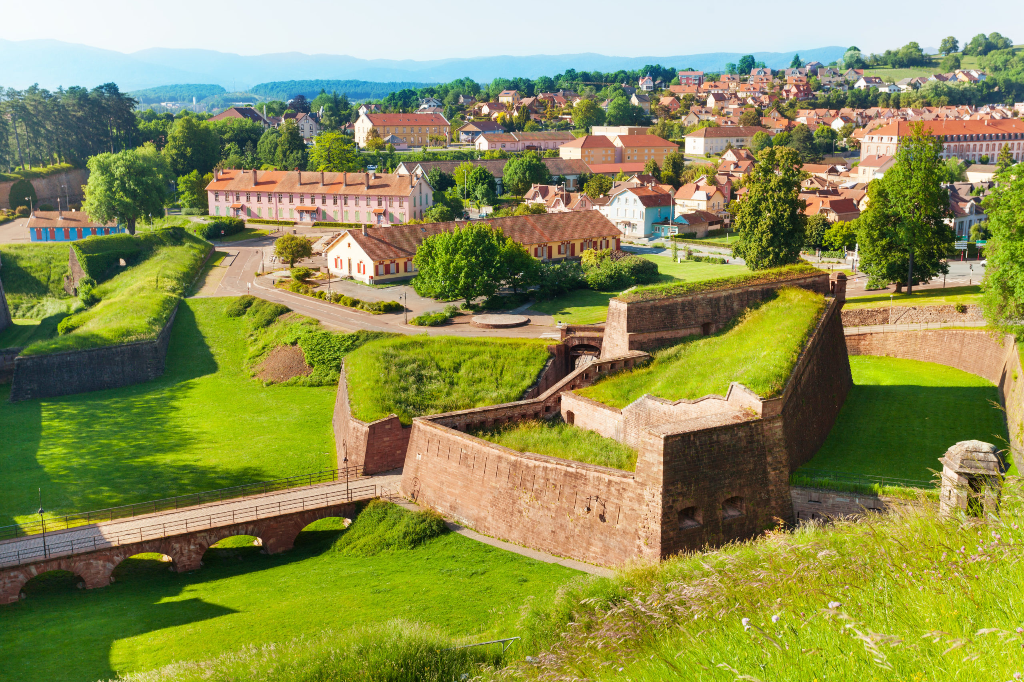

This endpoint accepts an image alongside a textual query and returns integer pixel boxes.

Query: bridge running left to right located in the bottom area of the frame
[0,479,395,607]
